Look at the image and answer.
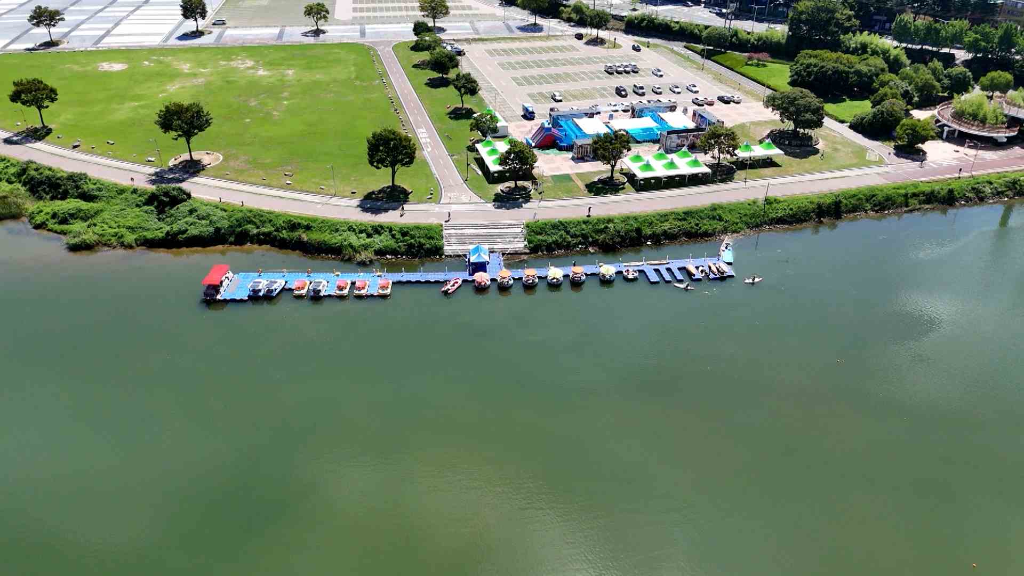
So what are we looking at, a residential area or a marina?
marina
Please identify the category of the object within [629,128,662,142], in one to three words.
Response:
swimming pool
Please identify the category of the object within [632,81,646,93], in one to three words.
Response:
vehicle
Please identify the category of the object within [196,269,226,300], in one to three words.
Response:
boat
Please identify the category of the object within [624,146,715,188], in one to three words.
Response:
tent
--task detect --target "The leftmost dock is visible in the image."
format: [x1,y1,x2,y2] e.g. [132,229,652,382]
[221,269,383,301]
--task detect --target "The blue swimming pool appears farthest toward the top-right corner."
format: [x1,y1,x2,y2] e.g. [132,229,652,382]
[648,120,693,133]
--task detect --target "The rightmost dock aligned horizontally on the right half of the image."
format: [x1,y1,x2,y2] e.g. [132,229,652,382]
[502,253,733,284]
